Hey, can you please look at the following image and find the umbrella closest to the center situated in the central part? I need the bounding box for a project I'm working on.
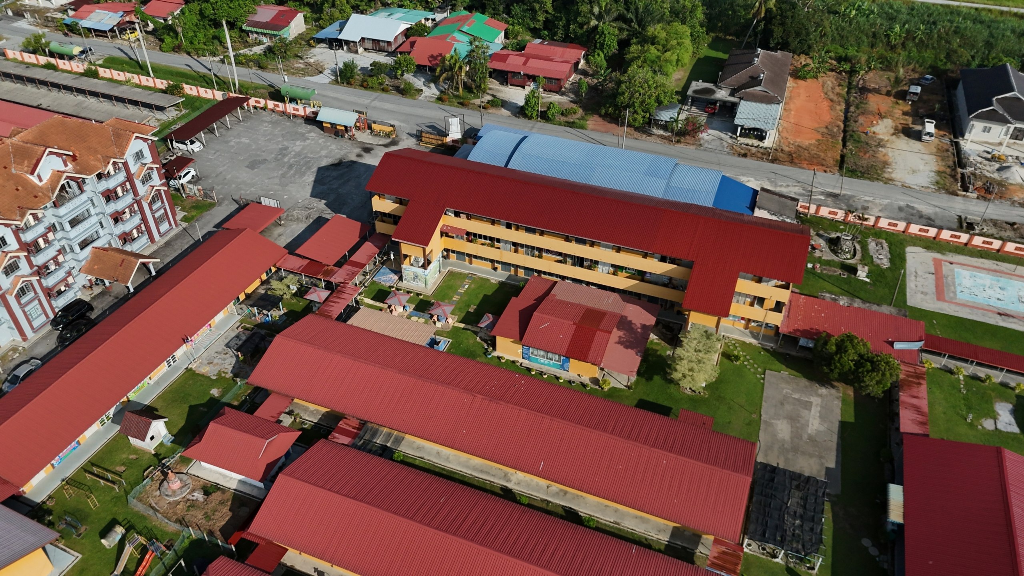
[472,312,503,336]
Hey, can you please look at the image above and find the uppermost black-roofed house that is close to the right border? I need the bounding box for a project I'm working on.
[955,59,1024,158]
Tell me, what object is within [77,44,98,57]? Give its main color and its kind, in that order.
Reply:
gray vehicle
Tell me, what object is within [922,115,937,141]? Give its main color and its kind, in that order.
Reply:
white vehicle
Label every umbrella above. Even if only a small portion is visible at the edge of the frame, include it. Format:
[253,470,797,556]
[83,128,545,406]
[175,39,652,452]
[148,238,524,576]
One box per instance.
[426,300,457,322]
[383,288,413,308]
[302,287,332,308]
[472,312,503,336]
